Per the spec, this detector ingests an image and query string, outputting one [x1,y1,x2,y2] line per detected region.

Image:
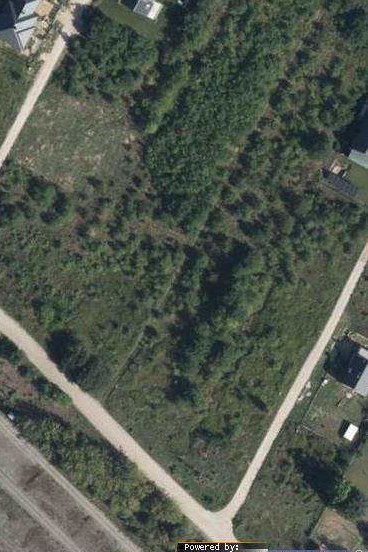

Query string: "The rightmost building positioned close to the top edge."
[134,0,166,20]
